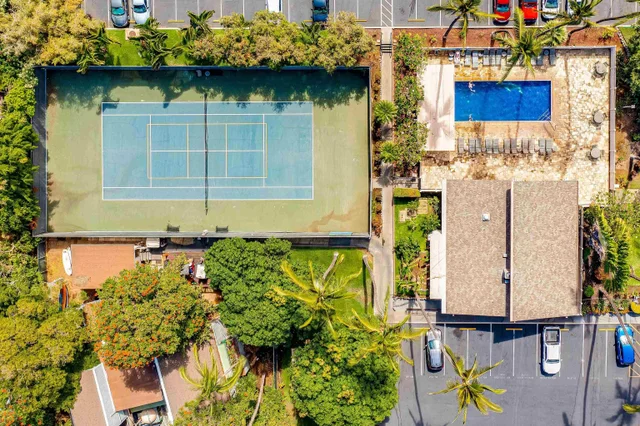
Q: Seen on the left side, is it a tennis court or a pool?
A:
tennis court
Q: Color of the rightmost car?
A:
blue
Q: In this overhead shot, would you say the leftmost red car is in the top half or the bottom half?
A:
top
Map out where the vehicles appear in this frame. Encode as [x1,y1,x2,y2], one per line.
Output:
[492,0,512,24]
[109,0,131,30]
[131,0,151,26]
[139,402,160,426]
[538,323,562,374]
[539,0,561,19]
[610,324,634,367]
[424,329,442,372]
[310,0,329,24]
[518,0,540,23]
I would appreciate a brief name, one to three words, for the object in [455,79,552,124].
swimming pool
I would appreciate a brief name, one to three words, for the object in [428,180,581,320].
building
